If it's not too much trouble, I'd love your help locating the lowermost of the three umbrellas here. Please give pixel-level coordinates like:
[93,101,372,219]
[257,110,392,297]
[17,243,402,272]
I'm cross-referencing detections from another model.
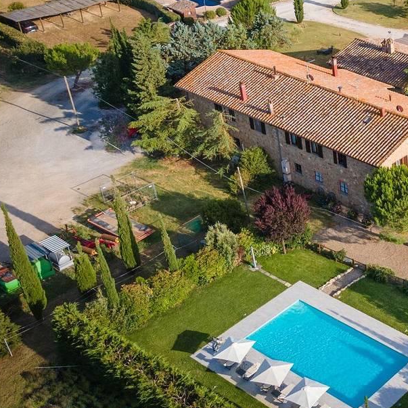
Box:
[284,377,333,408]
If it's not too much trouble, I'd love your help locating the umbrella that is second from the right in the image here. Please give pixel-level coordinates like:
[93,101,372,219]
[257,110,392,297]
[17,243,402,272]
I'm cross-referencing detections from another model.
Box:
[249,357,295,390]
